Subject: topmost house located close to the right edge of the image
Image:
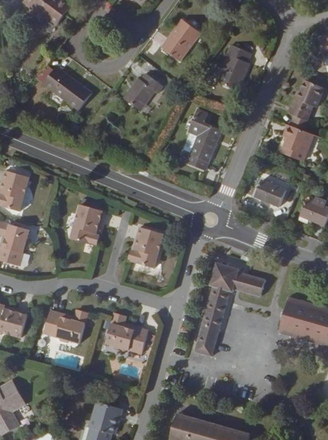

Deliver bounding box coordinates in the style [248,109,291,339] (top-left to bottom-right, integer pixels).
[288,79,323,126]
